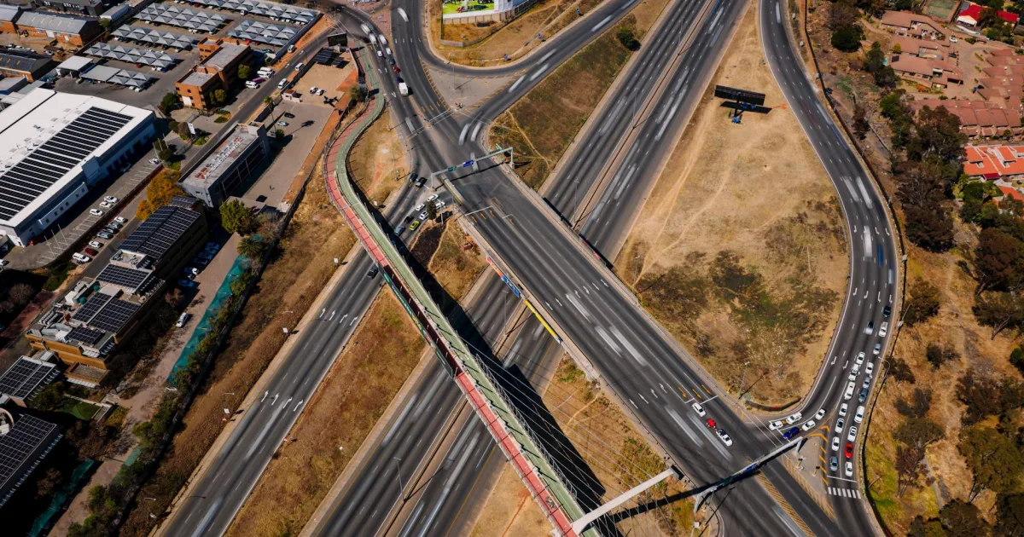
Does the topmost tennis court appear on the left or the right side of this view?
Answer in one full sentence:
The topmost tennis court sits on the right side.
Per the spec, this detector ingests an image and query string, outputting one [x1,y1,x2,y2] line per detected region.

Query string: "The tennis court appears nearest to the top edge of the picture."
[922,0,960,22]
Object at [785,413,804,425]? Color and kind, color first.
white vehicle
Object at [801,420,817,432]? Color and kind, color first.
white vehicle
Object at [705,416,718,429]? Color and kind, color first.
red vehicle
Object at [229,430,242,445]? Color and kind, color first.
gray vehicle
